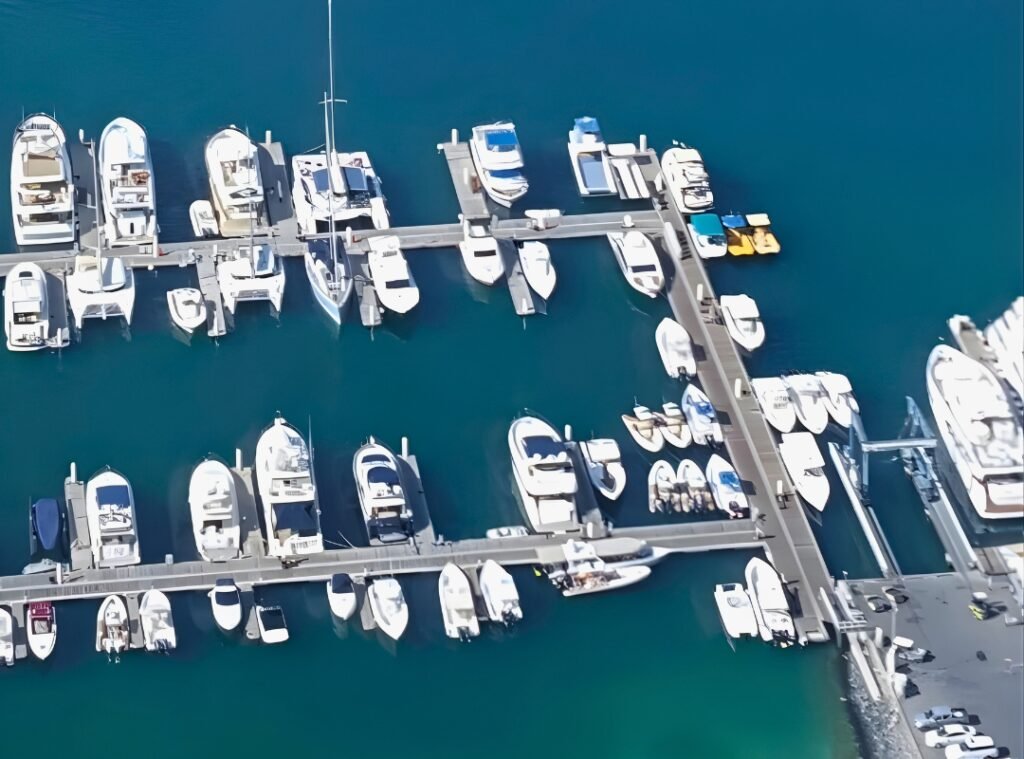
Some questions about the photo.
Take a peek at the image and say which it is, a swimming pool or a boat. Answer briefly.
boat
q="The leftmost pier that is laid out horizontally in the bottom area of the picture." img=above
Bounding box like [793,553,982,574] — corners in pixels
[0,518,764,603]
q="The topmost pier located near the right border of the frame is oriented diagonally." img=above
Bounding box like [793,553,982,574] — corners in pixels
[952,326,1010,402]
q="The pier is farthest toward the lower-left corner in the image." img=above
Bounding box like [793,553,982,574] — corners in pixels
[13,604,26,661]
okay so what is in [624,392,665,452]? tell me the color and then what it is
white boat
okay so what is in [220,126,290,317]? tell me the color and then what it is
white boat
